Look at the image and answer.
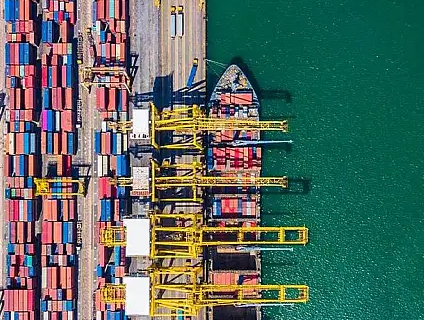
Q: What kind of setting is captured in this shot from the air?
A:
port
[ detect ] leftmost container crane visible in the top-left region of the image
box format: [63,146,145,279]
[84,68,131,95]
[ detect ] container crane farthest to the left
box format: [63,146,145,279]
[33,178,86,199]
